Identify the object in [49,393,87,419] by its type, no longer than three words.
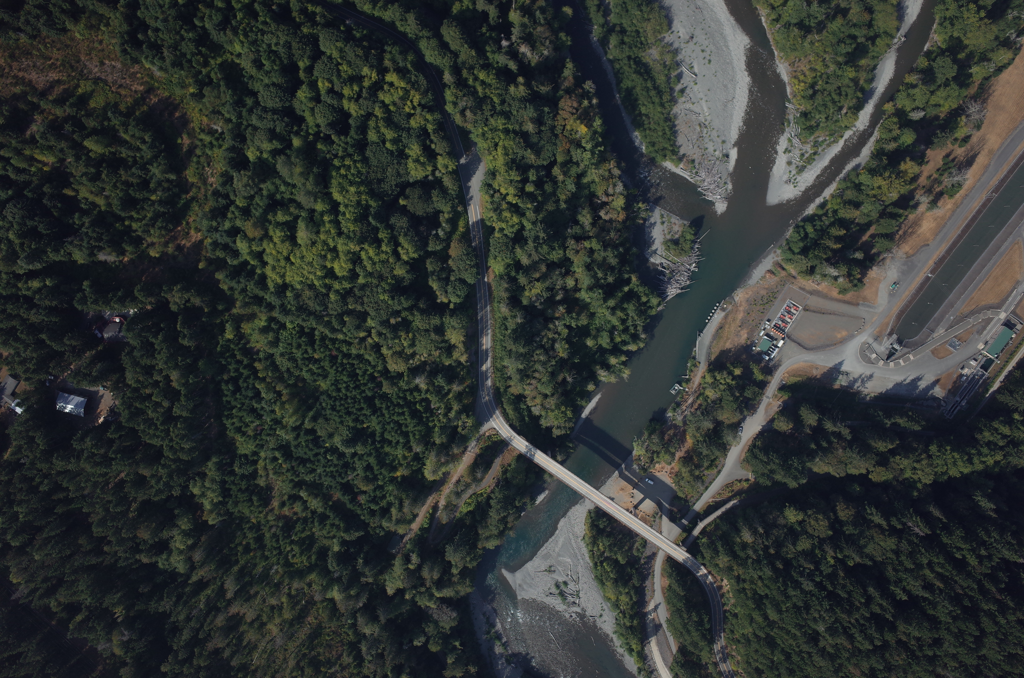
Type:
barn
